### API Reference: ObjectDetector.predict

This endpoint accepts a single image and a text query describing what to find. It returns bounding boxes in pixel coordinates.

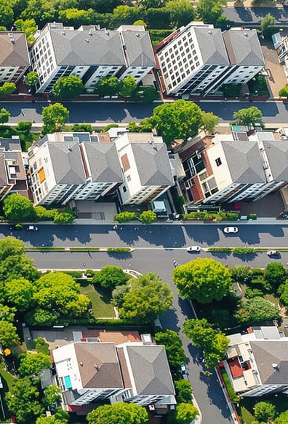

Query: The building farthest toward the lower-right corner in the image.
[214,328,288,392]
